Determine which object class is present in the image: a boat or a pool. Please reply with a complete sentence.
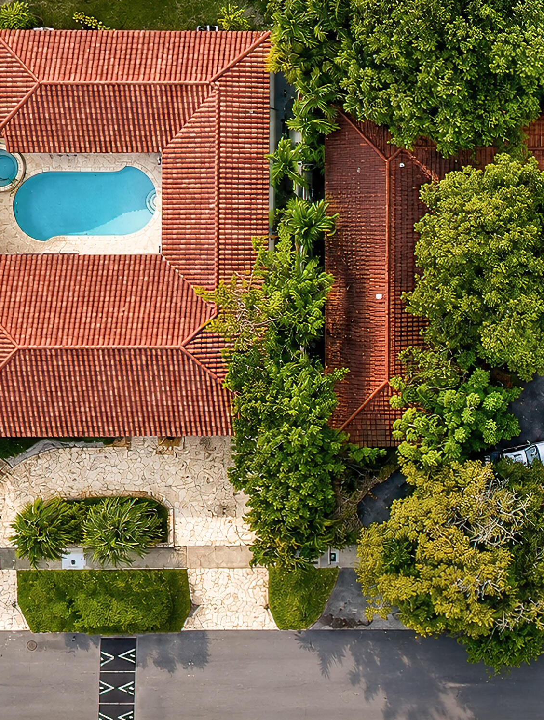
Looking from above, you can make out a pool.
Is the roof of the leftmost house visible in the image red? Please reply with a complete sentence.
Yes, the roof of the leftmost house is red.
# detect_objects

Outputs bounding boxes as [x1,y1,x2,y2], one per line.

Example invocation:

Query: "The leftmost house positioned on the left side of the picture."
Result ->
[0,28,276,436]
